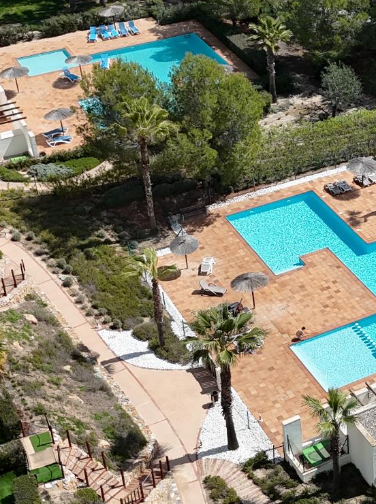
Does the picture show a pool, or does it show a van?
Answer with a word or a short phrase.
pool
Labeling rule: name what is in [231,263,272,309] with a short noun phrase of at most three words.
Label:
umbrella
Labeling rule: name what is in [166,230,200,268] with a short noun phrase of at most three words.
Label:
umbrella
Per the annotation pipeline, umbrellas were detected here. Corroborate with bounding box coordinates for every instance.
[96,2,125,20]
[0,63,28,91]
[62,50,92,78]
[346,154,376,188]
[166,230,200,268]
[231,263,272,309]
[42,103,71,130]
